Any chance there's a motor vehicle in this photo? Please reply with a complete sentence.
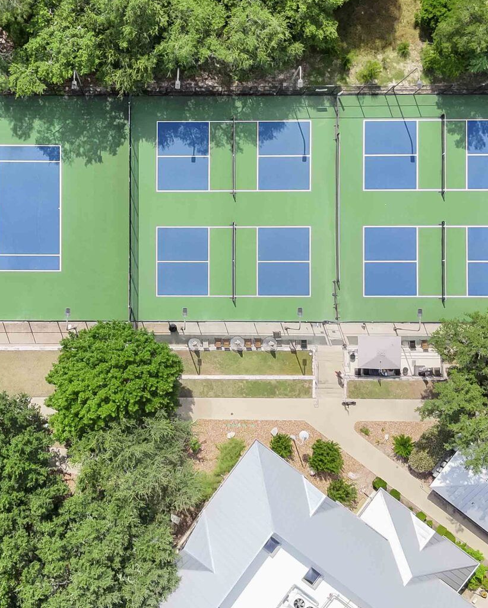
No, I can't see a single motor vehicle in this photo.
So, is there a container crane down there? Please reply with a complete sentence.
No, the scene contains no container crane.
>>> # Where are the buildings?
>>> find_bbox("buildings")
[137,441,484,608]
[428,425,488,529]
